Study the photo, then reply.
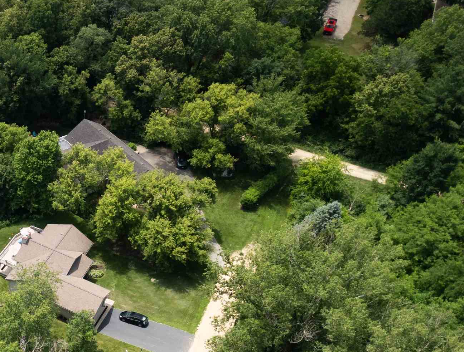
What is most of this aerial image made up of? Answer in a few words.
trees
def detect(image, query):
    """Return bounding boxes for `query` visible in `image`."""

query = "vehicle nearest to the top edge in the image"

[323,19,337,34]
